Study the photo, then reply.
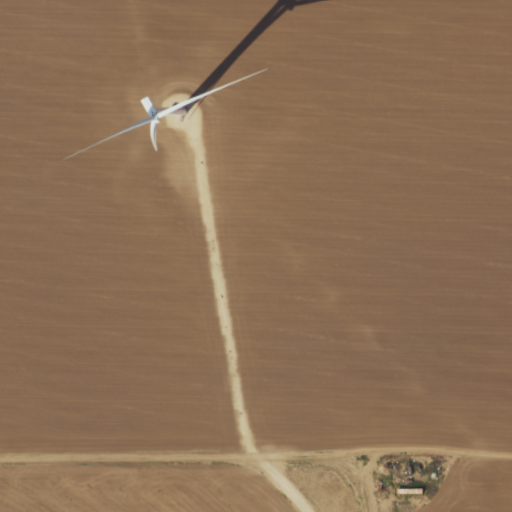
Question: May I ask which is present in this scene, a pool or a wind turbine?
wind turbine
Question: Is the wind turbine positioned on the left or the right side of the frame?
left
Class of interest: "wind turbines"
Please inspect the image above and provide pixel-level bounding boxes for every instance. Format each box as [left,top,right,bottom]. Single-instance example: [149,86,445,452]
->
[64,68,268,159]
